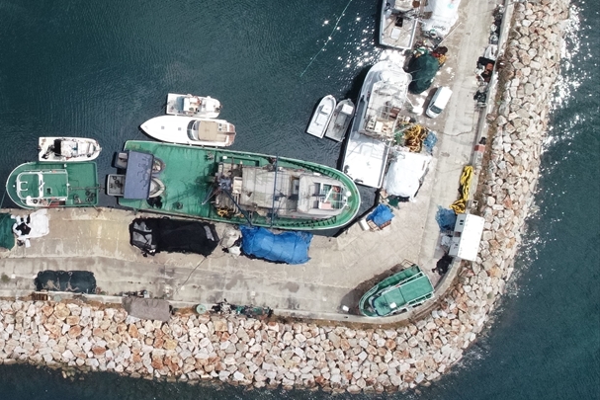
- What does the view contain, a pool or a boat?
boat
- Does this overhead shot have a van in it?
Yes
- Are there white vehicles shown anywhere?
Yes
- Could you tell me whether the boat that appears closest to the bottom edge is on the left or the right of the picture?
right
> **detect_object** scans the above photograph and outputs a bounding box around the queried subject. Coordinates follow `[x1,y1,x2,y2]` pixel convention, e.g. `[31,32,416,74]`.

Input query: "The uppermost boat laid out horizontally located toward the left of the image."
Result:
[164,93,222,116]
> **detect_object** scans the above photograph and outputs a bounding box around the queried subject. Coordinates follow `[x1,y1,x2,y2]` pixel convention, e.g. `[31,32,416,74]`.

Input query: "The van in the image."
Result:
[425,86,454,118]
